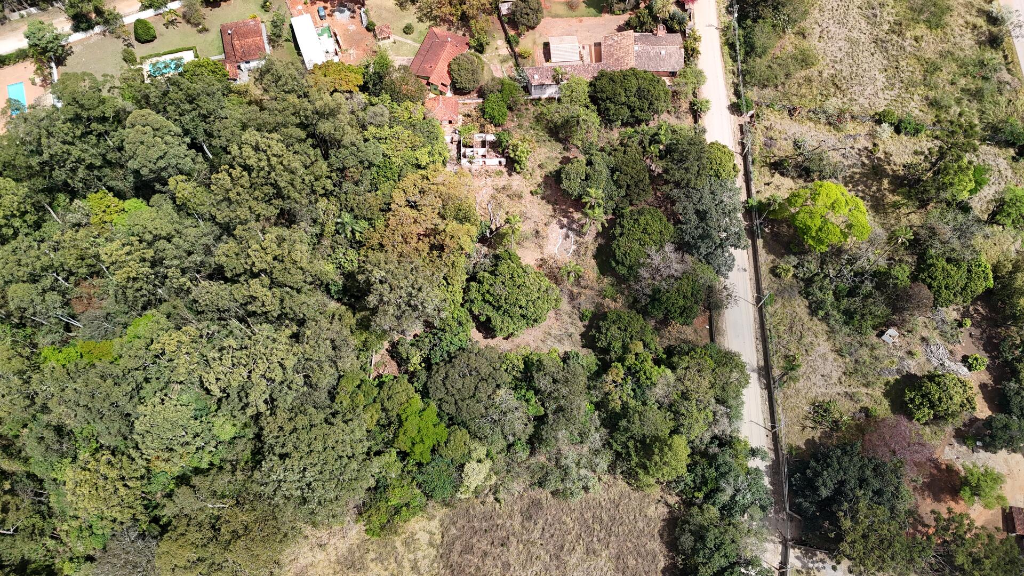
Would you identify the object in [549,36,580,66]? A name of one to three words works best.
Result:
shed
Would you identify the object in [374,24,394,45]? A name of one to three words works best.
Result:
gazebo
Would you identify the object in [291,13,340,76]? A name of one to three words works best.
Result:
building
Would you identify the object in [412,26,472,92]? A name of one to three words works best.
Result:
house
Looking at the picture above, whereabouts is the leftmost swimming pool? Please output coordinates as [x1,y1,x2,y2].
[8,82,26,114]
